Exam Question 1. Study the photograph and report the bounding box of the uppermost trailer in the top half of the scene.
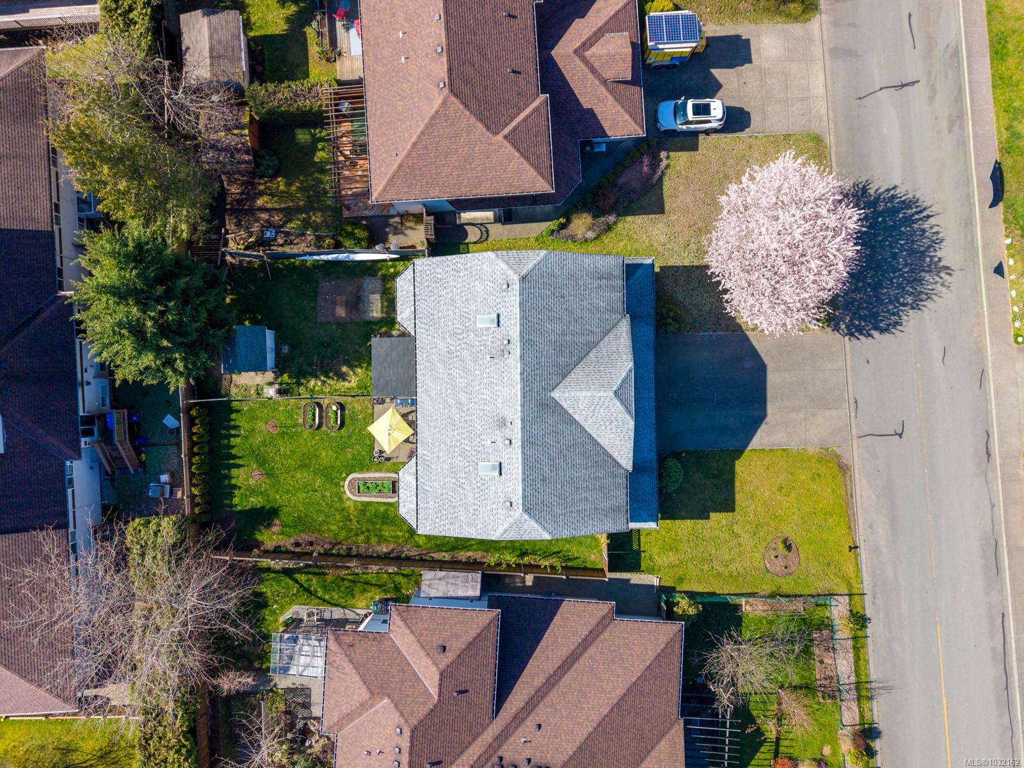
[642,10,711,68]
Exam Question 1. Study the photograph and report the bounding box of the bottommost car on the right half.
[655,96,728,136]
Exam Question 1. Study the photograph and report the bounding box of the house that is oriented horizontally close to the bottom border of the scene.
[318,588,686,768]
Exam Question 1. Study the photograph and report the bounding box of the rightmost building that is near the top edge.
[357,0,648,215]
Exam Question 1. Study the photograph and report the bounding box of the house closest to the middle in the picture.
[394,248,661,541]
